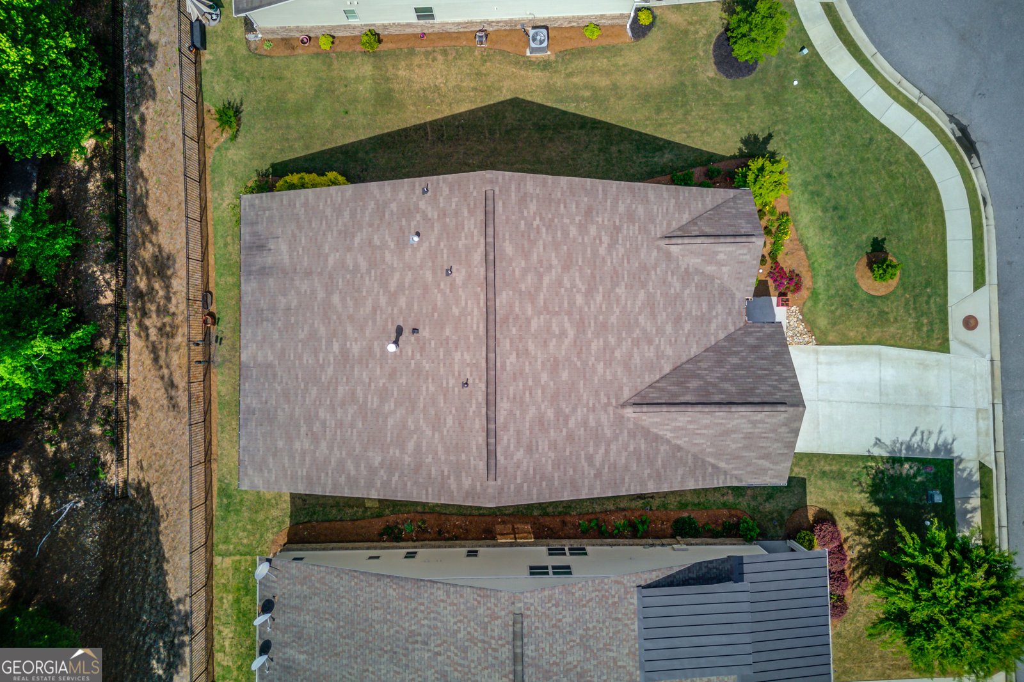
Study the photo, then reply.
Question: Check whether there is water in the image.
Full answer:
No, water can't be seen anywhere here.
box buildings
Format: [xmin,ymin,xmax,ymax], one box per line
[238,171,807,511]
[227,0,658,40]
[253,539,831,682]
